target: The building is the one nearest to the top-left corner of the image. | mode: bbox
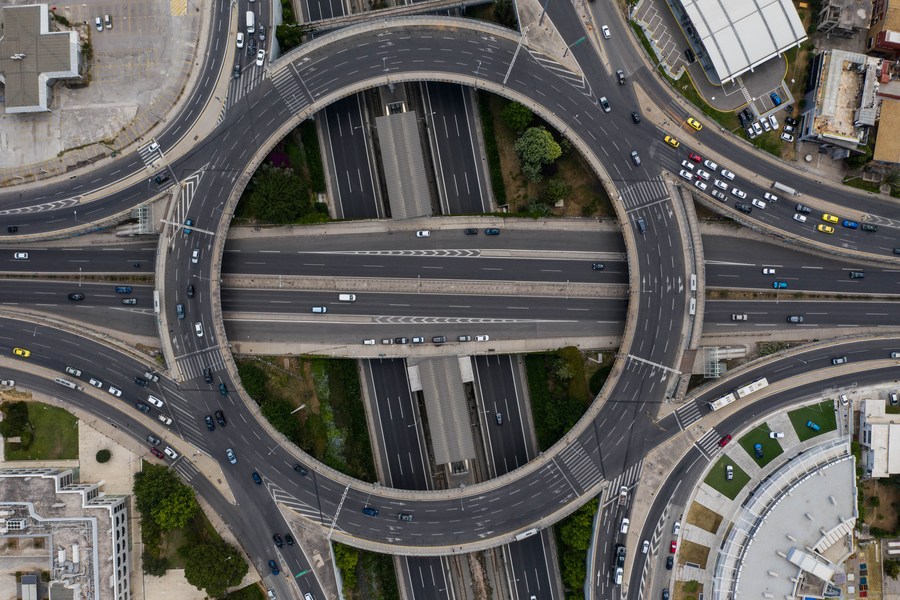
[0,4,79,110]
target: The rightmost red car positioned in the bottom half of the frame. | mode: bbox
[717,434,733,447]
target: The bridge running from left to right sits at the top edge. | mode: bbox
[294,0,482,34]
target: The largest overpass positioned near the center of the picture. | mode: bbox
[221,216,628,358]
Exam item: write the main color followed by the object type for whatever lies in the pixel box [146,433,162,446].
gray vehicle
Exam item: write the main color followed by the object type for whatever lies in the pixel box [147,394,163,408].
white vehicle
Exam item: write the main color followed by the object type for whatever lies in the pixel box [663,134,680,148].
yellow vehicle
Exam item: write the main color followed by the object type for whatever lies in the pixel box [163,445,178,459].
white car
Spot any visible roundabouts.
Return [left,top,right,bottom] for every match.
[156,17,692,555]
